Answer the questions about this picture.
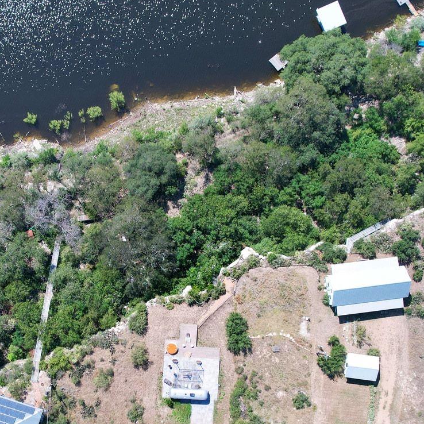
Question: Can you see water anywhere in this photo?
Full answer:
Yes, water can be seen from above here.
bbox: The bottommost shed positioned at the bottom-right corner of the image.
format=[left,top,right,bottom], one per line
[344,353,379,380]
